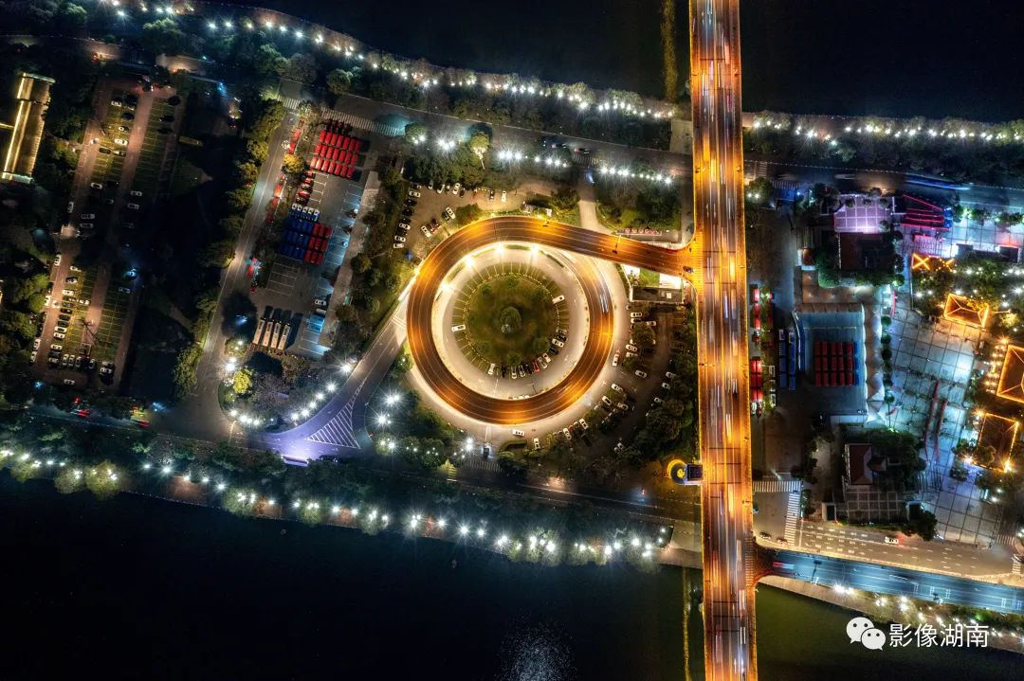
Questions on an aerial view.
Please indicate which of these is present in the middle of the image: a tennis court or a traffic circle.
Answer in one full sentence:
The feature located in the middle of the image is a traffic circle.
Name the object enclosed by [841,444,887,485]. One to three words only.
house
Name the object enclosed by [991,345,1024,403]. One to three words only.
building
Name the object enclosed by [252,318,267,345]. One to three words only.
vehicle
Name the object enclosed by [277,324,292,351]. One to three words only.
vehicle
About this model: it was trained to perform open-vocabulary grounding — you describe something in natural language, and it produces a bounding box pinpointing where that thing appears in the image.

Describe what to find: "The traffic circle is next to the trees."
[406,225,630,441]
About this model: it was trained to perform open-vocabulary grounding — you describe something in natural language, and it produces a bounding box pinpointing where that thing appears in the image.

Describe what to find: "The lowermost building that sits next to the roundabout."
[628,286,684,303]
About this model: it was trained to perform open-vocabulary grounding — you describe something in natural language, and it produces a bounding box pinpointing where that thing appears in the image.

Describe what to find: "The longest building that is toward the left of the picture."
[1,76,62,185]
